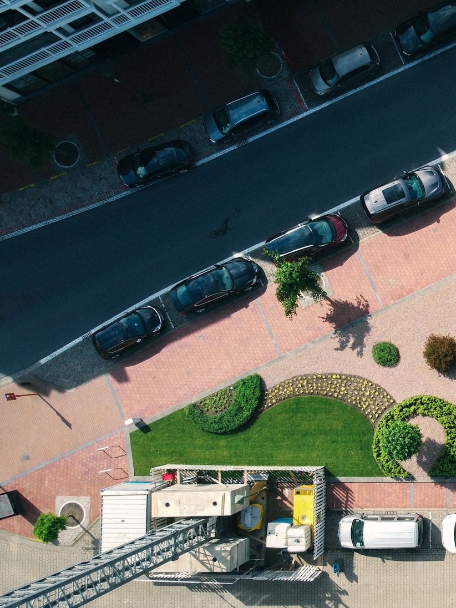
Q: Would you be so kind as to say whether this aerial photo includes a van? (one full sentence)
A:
Yes, a van appears in the view.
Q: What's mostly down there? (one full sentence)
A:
The bulk of the photo consists of paved ground.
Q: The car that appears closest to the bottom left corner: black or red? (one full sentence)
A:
In this view, the car that appears closest to the bottom left corner is black.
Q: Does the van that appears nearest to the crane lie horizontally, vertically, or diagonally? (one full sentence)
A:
Seen from above, the van that appears nearest to the crane lies horizontally.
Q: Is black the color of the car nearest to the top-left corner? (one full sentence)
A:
Yes, the car nearest to the top-left corner is black.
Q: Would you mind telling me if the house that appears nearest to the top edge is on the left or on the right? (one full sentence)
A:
The house that appears nearest to the top edge is on the left side of the image.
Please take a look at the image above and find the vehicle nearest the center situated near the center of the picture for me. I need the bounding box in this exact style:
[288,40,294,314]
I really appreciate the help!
[169,258,264,315]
